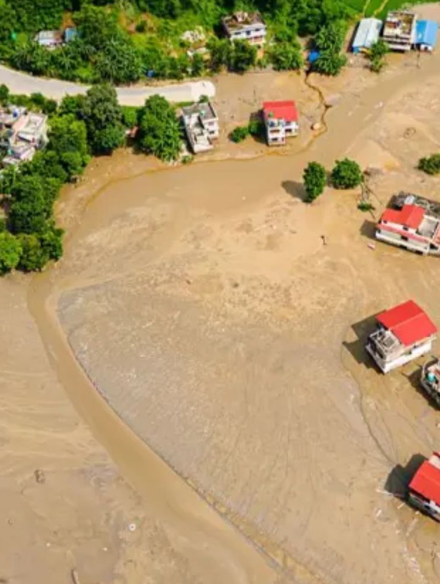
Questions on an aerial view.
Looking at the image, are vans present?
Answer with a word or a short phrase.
No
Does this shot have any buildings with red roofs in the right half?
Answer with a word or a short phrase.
Yes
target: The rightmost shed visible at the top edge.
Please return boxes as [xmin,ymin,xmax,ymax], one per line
[416,20,437,54]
